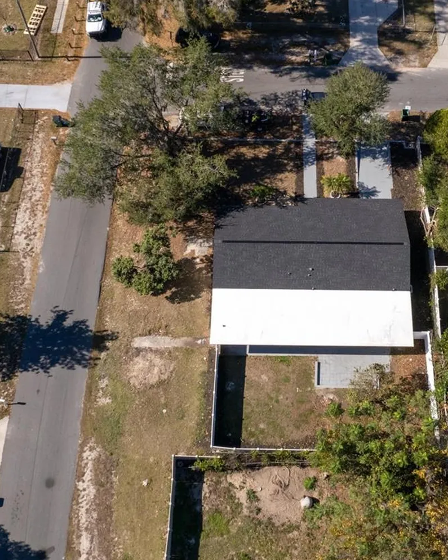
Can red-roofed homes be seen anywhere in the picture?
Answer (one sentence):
No, there is no red-roofed home in the image.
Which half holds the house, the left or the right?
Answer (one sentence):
You can find the house on the right side of the picture.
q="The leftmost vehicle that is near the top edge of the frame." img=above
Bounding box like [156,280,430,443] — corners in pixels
[82,0,109,38]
